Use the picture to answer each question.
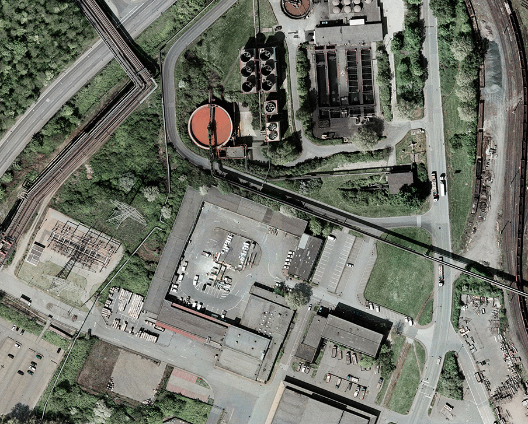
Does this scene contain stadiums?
No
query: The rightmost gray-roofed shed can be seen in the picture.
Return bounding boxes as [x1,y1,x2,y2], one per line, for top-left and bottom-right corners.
[385,172,414,190]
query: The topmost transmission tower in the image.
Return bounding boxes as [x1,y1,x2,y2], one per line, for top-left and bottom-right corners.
[116,207,143,225]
